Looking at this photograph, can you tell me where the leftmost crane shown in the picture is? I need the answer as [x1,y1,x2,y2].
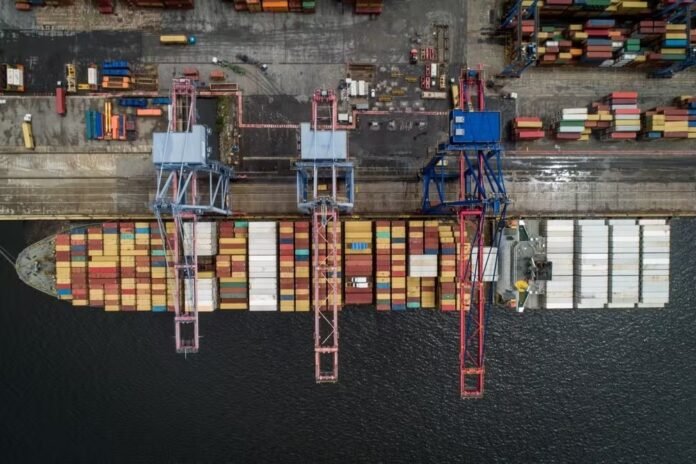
[150,76,253,358]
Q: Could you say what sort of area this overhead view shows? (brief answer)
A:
port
